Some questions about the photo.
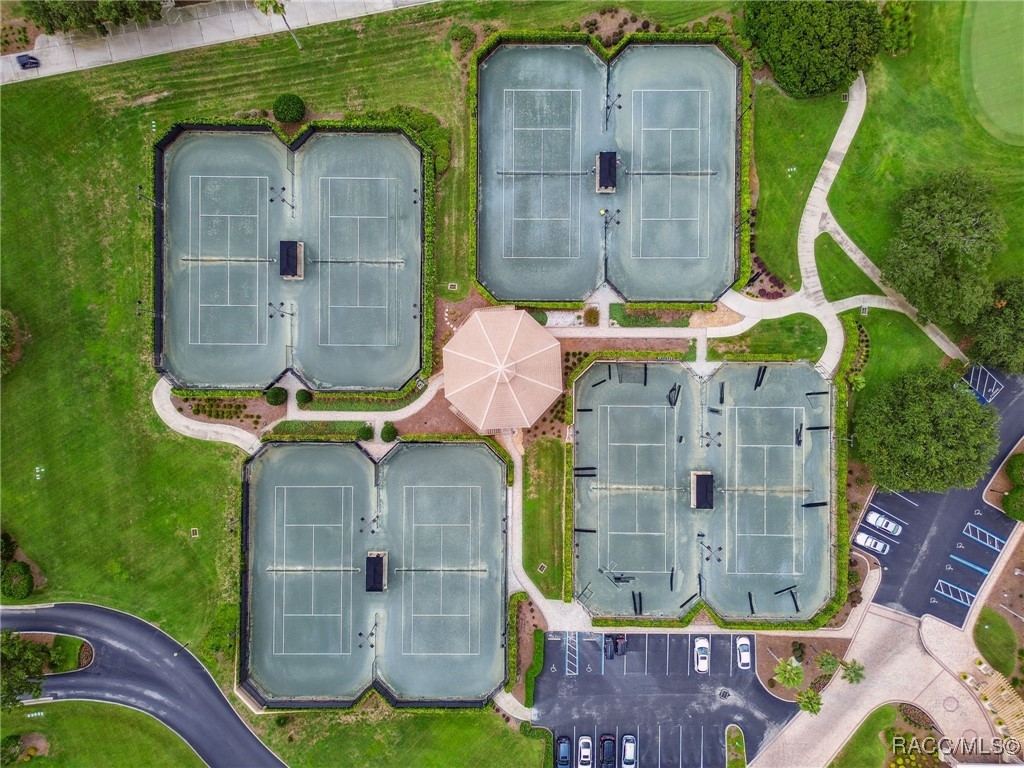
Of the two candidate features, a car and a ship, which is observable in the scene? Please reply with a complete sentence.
There is a car in the scene.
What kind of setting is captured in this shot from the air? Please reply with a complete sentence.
What you see here is a sports ground.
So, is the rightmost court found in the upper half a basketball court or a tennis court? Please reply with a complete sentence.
The rightmost court found in the upper half can be classified as a tennis court.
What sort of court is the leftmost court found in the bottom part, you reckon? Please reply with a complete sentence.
What you see as the leftmost court found in the bottom part is a tennis court.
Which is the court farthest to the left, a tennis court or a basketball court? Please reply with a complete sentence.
I'd say the court farthest to the left is a tennis court.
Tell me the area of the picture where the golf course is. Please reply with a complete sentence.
The golf course sits in the top right section of the image.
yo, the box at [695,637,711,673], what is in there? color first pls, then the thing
white car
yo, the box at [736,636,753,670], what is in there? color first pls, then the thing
white car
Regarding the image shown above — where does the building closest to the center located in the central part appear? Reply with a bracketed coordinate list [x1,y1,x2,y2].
[443,304,563,435]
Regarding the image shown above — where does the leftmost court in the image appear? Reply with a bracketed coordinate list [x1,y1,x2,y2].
[164,131,292,388]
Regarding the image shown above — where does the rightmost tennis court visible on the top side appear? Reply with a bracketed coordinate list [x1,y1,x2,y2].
[607,46,735,300]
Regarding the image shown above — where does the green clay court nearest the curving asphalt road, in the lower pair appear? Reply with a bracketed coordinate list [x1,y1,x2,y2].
[247,445,377,699]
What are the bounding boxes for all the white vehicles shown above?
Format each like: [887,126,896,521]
[736,636,753,670]
[623,736,638,768]
[695,637,711,673]
[578,736,594,768]
[866,509,902,536]
[855,530,890,556]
